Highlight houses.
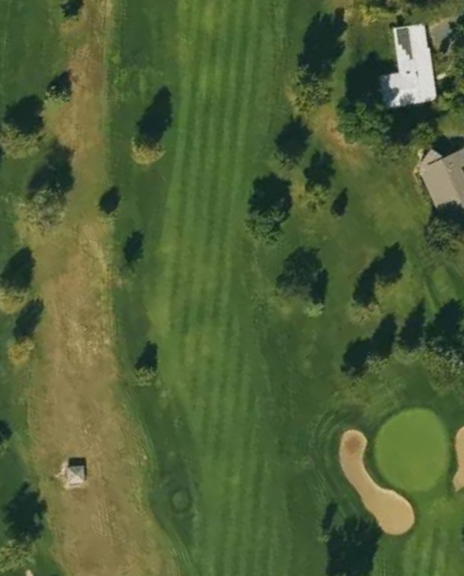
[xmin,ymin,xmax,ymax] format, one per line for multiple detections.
[417,147,464,224]
[382,23,436,108]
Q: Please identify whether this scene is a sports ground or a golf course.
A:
golf course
